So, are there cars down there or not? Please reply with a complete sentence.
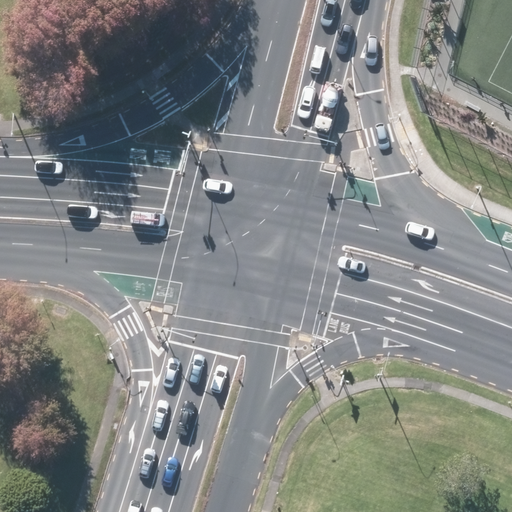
Yes, looking at the shot, I can spot a car.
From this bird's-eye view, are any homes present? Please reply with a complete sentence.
No, no home is visible in the view.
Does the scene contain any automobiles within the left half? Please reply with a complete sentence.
Yes, looking within the left half, one can make out an automobile.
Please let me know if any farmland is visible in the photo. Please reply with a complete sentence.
No, there's no farmland in this view.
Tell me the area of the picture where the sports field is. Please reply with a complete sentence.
Look in the top right portion of the view to spot the sports field.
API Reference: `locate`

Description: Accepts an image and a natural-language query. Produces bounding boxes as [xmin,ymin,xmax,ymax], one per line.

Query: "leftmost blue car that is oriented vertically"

[162,457,178,487]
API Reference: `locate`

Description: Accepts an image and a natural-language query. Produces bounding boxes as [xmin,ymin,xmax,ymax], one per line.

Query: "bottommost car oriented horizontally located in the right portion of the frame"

[336,257,366,274]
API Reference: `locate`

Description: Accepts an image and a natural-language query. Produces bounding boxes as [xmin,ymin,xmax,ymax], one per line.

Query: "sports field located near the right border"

[455,0,512,102]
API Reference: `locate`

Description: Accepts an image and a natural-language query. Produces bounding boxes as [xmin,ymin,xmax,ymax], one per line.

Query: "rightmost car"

[404,222,435,240]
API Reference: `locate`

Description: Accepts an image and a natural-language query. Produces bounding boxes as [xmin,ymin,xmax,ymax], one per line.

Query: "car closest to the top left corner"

[34,161,63,176]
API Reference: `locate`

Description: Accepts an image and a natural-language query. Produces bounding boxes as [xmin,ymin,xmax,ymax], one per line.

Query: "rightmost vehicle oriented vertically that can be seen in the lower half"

[210,364,227,394]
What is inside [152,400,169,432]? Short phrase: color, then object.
white car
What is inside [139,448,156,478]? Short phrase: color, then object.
white car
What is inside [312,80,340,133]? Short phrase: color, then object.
white truck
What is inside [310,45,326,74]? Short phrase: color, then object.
white vehicle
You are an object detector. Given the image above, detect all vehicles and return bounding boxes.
[163,357,180,388]
[162,457,178,487]
[139,448,156,478]
[149,506,162,512]
[310,45,326,74]
[336,257,366,274]
[34,161,63,176]
[210,364,227,394]
[128,500,142,512]
[404,222,435,240]
[176,400,195,436]
[374,123,390,150]
[152,400,169,432]
[364,35,379,66]
[298,86,316,118]
[66,204,98,220]
[336,24,354,55]
[321,0,338,26]
[352,0,367,10]
[202,179,233,195]
[130,212,165,228]
[188,354,204,384]
[312,80,340,133]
